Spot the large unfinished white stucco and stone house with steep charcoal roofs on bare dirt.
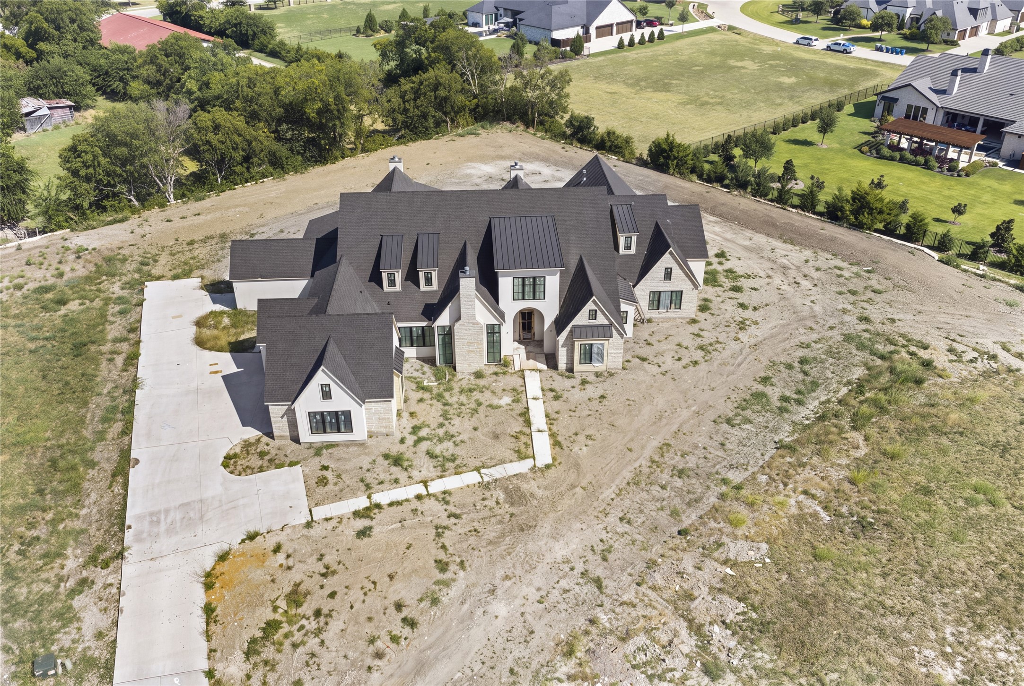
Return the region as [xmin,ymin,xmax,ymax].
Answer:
[229,151,711,444]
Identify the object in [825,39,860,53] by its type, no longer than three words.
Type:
vehicle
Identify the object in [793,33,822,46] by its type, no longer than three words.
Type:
vehicle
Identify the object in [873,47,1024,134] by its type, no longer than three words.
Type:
house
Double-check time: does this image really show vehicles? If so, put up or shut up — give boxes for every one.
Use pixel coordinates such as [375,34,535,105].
[639,16,654,27]
[648,15,670,25]
[825,39,860,53]
[793,33,822,46]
